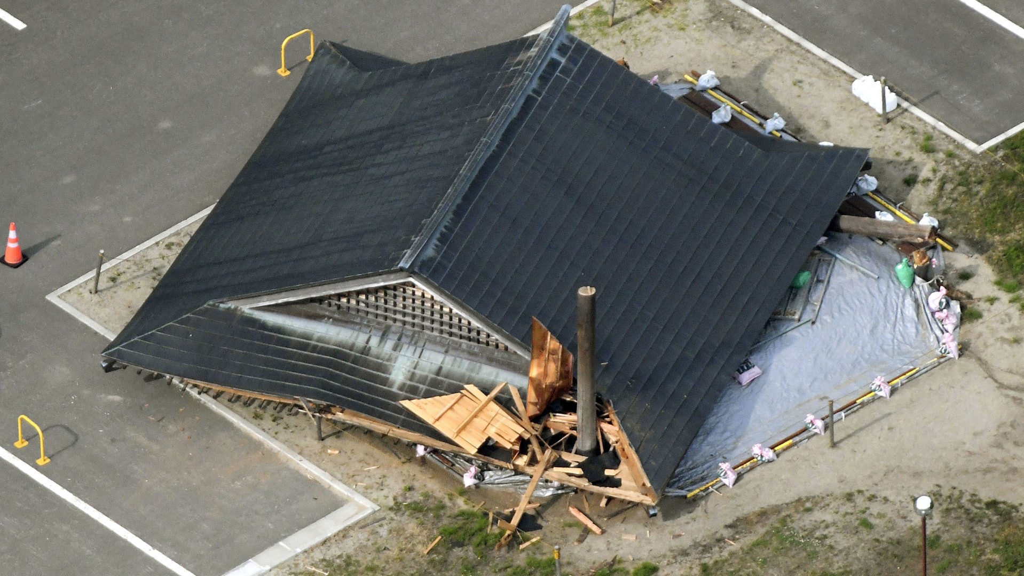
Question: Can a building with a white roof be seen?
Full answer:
No, there is no building with a white roof in the image.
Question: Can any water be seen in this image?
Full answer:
No, no water is visible.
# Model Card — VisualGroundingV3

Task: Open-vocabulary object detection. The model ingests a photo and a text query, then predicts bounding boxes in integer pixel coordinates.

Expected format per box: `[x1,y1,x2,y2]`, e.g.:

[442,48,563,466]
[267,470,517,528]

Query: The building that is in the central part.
[98,15,870,517]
